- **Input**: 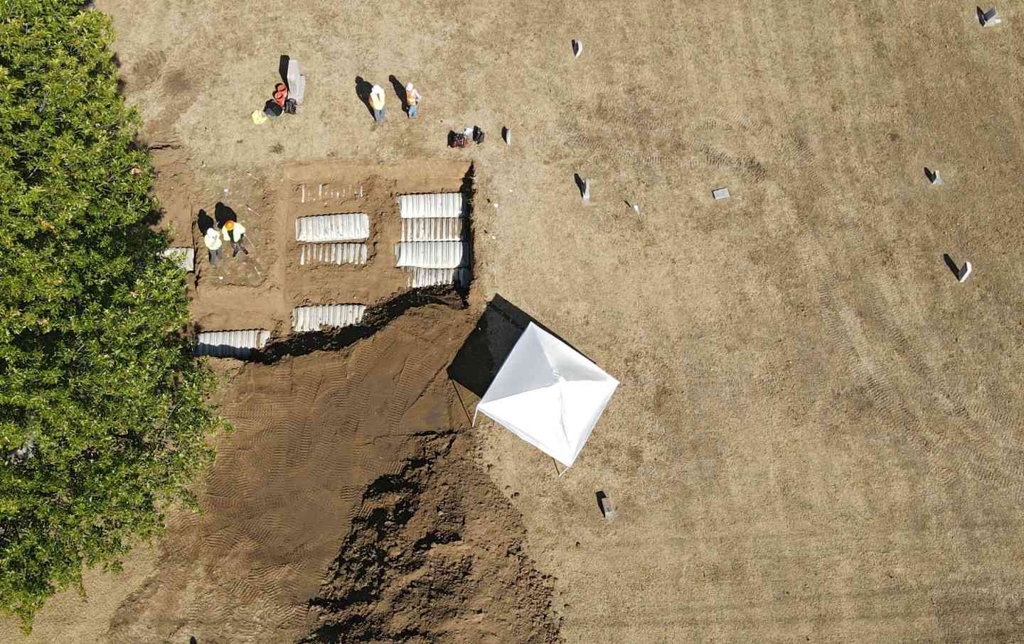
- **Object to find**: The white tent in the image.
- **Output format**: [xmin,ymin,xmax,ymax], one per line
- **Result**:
[472,325,621,479]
